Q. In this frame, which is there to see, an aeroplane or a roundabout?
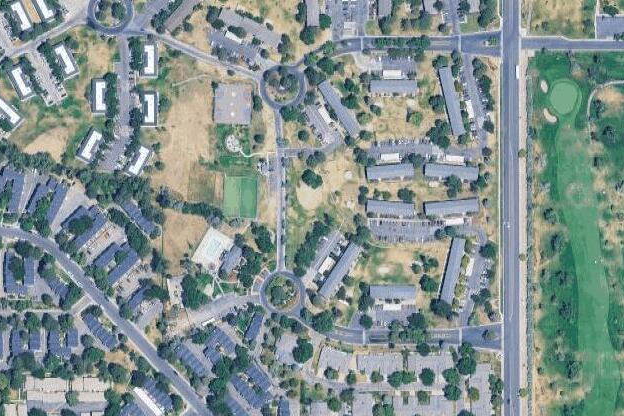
roundabout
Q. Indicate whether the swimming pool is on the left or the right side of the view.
left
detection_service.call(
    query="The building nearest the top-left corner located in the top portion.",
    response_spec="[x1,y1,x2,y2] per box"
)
[8,0,33,31]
